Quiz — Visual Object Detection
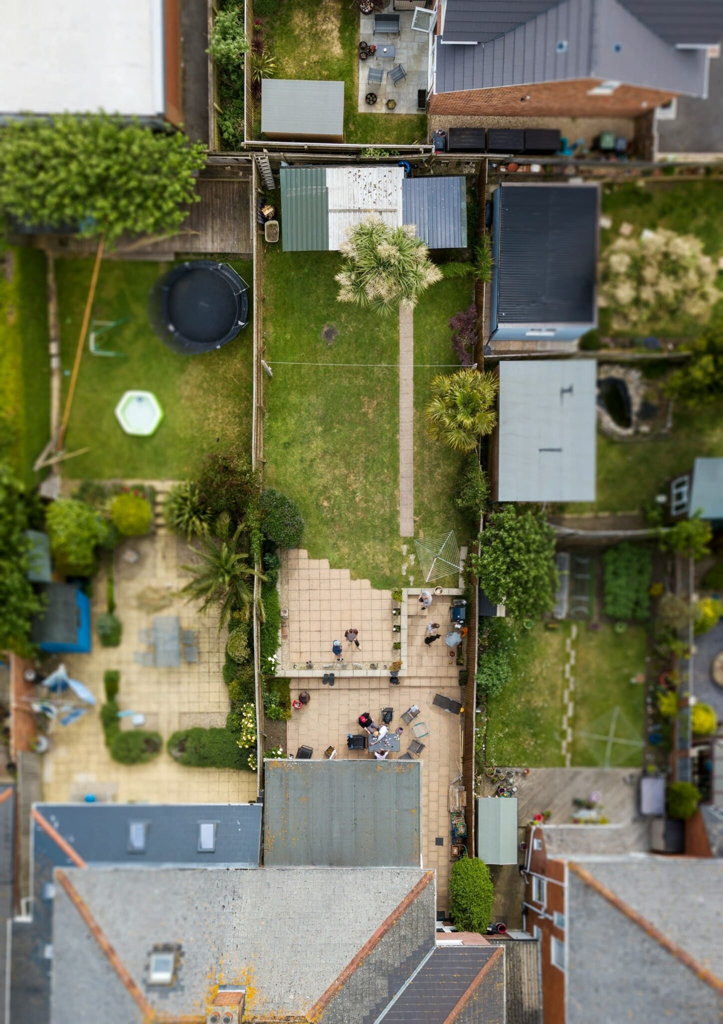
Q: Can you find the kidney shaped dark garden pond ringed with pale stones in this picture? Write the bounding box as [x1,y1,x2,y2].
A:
[597,363,648,437]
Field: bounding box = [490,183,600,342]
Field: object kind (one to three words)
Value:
shed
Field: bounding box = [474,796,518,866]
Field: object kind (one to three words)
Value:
shed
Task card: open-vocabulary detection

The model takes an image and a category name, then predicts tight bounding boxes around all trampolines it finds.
[153,249,249,351]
